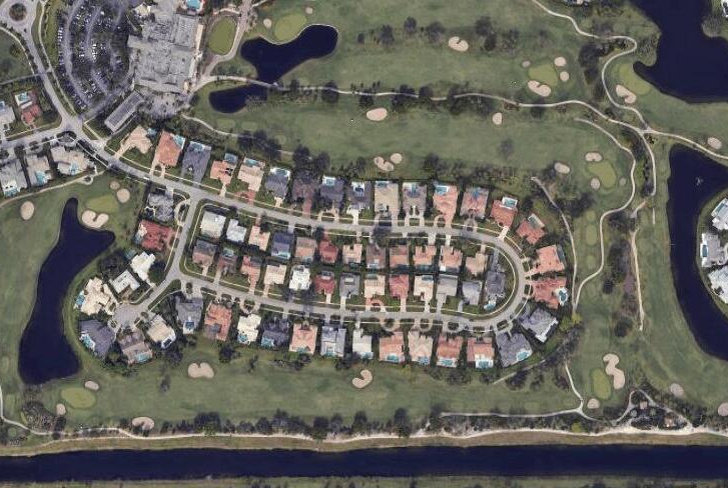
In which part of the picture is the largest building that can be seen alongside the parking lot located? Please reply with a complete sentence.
The largest building that can be seen alongside the parking lot is in the top left part of the image.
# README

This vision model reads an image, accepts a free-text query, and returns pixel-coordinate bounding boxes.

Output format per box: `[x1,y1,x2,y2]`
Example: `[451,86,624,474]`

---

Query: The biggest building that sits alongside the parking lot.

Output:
[128,3,199,95]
